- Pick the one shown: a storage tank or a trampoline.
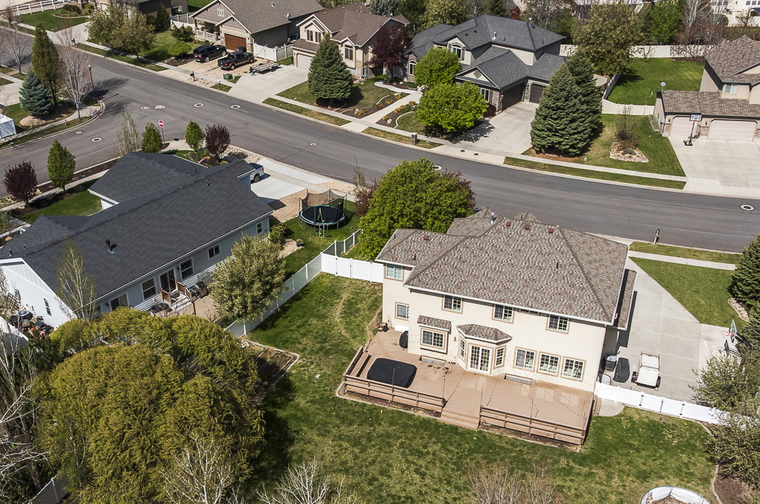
trampoline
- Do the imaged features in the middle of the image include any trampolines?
Yes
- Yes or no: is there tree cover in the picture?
Yes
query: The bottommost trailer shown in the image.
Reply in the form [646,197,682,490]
[631,349,666,389]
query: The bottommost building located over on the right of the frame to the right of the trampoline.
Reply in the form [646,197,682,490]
[375,208,644,392]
